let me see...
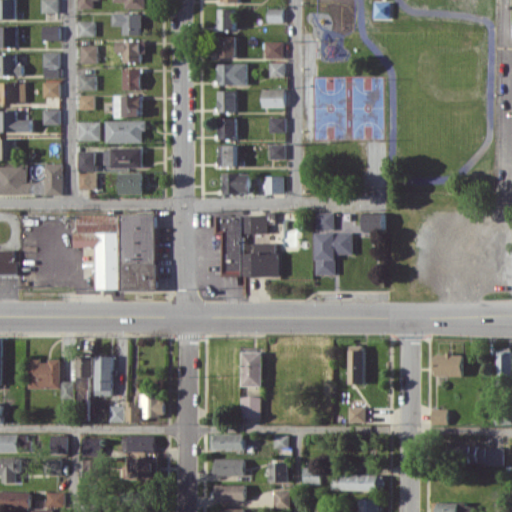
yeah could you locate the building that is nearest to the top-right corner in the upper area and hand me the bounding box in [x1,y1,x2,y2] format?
[372,0,396,22]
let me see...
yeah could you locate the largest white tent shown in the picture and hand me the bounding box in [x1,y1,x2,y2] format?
[286,230,303,252]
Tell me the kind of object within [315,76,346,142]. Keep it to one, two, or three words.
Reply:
basketball court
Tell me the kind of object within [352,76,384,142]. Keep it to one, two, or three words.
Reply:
basketball court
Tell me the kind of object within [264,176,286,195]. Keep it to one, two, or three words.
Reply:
building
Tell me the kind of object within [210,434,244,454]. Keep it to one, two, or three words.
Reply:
house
